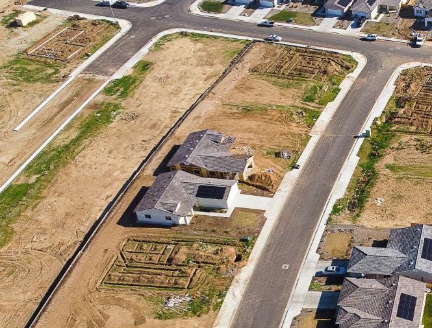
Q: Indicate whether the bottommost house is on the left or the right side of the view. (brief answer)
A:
right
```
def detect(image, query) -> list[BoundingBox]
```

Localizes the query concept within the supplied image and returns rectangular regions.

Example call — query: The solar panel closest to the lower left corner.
[196,185,225,199]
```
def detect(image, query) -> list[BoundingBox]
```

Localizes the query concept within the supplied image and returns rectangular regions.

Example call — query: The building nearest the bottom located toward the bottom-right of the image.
[337,275,427,328]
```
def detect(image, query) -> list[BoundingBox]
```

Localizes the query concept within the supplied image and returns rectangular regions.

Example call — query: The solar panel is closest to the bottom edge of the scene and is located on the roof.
[397,293,417,320]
